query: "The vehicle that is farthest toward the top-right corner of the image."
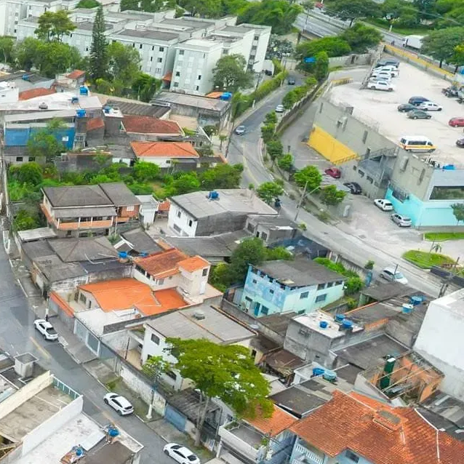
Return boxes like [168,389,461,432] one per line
[406,32,424,44]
